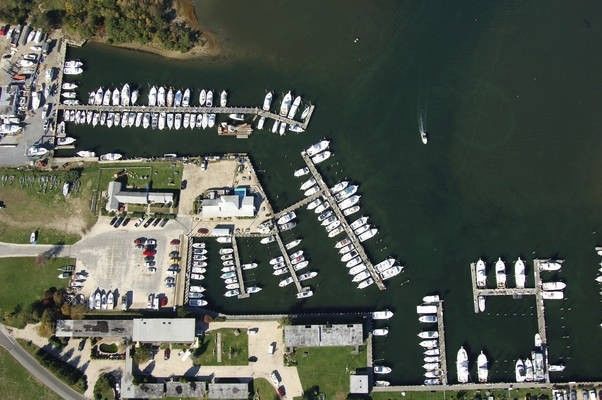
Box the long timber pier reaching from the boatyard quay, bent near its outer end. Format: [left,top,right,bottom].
[59,104,315,130]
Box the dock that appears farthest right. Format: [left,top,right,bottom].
[470,258,564,384]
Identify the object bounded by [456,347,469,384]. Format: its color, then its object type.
white boat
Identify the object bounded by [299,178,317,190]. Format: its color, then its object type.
white boat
